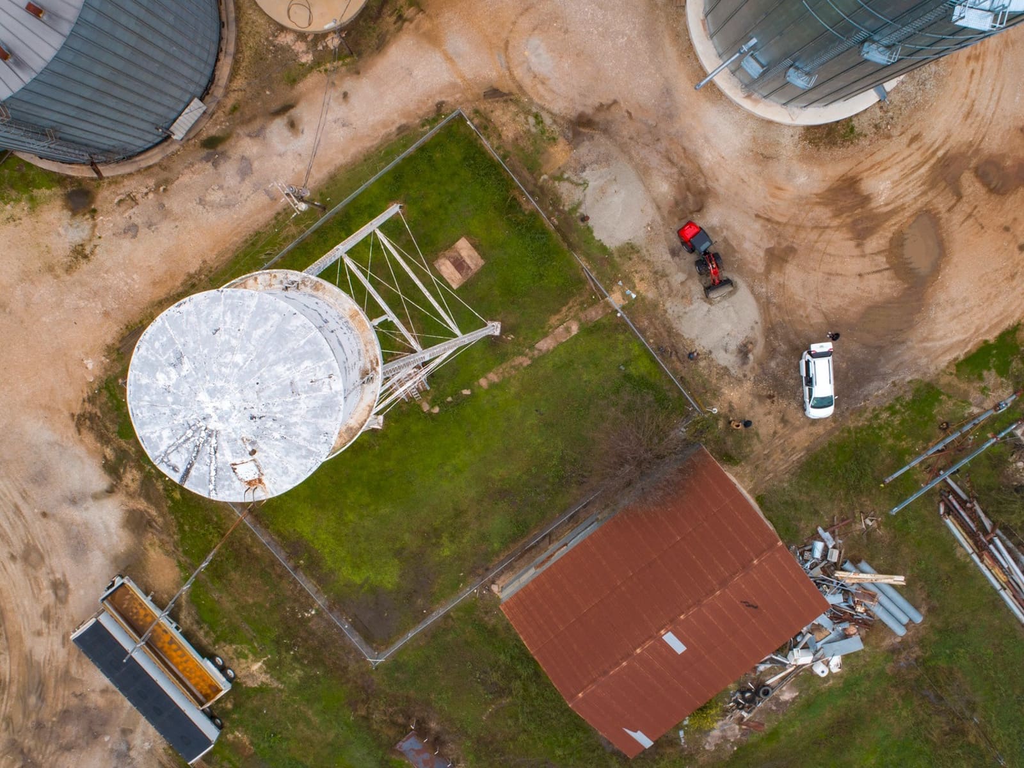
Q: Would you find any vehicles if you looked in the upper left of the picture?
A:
No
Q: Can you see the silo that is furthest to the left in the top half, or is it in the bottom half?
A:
top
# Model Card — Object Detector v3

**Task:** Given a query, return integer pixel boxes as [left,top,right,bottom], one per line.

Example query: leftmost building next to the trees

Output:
[499,437,831,755]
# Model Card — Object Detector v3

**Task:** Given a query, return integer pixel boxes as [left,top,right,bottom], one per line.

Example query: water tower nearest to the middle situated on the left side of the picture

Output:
[130,198,503,512]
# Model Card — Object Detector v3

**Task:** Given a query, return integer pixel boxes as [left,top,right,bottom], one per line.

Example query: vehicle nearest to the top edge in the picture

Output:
[675,220,734,297]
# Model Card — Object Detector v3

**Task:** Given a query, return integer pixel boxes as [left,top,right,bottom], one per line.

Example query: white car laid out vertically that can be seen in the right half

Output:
[803,344,840,420]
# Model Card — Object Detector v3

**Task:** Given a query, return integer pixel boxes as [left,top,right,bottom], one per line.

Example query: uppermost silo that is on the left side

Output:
[0,0,233,179]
